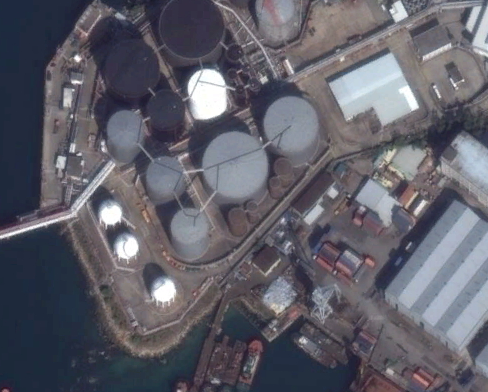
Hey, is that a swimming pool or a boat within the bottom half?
boat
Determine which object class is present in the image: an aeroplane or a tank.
tank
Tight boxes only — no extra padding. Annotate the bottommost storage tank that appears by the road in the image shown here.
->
[152,276,182,307]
